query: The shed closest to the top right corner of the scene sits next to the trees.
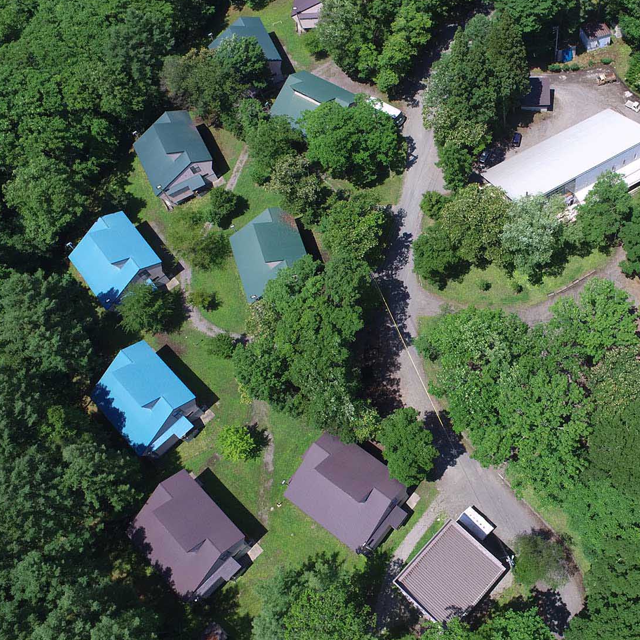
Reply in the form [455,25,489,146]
[583,23,611,53]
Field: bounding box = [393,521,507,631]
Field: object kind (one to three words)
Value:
building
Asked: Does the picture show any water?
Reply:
No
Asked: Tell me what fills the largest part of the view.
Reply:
trees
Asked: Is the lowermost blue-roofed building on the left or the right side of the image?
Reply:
left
